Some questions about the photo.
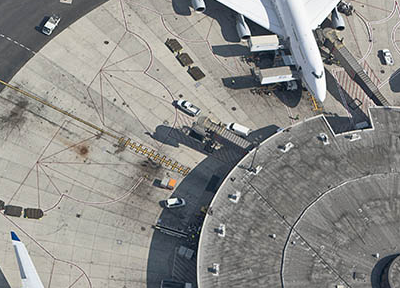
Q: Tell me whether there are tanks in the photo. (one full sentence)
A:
No, there is no tank in the image.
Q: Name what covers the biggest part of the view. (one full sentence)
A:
The scene is dominated by paved ground.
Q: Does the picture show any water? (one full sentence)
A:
No, water can't be seen anywhere here.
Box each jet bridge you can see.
[188,119,255,158]
[314,34,394,108]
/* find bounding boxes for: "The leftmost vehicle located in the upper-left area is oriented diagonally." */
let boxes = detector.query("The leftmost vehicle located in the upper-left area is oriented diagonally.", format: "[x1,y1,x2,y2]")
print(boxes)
[42,14,61,34]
